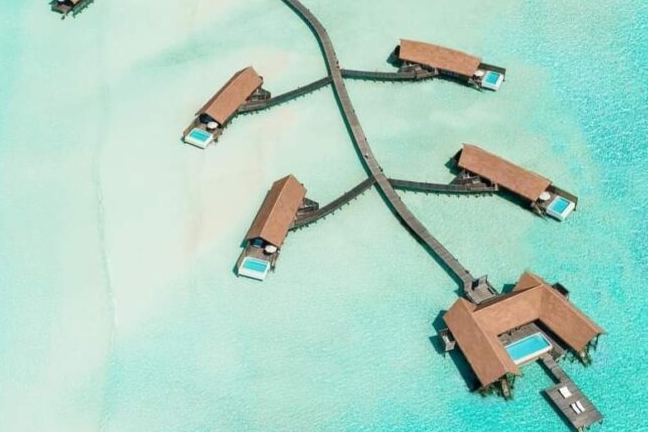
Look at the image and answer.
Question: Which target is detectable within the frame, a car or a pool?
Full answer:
I can see a pool in this picture.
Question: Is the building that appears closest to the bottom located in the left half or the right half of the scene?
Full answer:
The building that appears closest to the bottom appears in the right half of the scene.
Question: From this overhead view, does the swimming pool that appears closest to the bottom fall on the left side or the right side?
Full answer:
The swimming pool that appears closest to the bottom sits on the right side.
